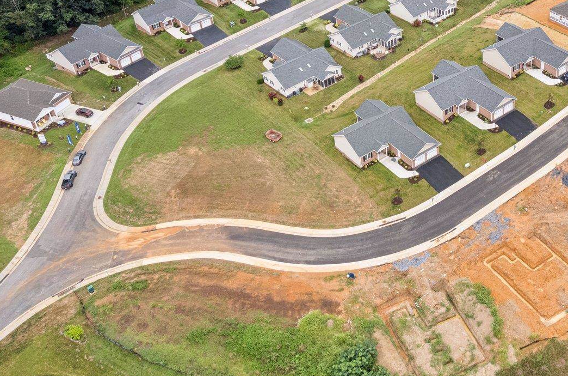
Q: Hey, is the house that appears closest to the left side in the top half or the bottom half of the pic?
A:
top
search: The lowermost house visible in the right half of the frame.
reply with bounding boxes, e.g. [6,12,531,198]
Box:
[334,99,442,168]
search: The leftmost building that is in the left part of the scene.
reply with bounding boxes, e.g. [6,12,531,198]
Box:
[0,76,70,133]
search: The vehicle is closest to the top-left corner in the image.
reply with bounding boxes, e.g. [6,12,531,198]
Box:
[73,104,95,117]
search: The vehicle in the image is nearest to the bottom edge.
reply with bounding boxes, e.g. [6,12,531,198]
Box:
[57,167,79,189]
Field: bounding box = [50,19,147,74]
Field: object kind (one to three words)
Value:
house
